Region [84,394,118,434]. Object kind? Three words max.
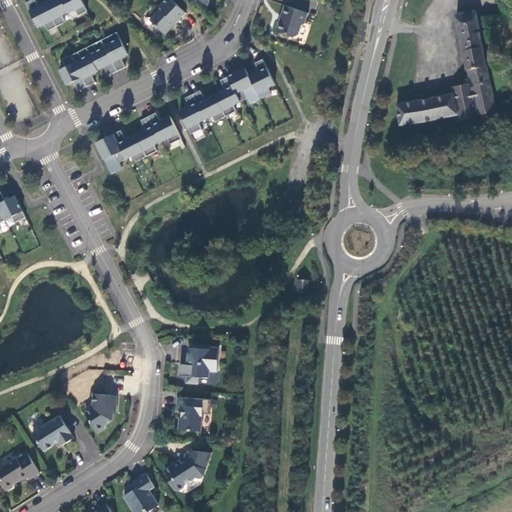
house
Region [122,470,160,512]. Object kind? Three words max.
house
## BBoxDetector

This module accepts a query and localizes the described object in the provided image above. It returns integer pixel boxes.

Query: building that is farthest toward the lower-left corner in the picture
[0,454,37,494]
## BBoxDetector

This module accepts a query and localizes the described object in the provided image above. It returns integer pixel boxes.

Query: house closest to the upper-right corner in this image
[398,10,495,125]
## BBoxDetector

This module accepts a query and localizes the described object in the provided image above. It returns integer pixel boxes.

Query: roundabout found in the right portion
[324,204,396,276]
